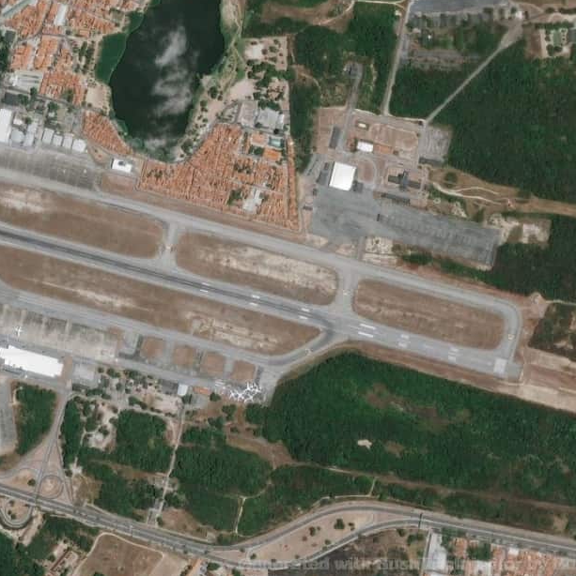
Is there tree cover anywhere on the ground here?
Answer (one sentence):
Yes, there is tree cover in the image.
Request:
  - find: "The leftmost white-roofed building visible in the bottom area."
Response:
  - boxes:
[0,346,64,379]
